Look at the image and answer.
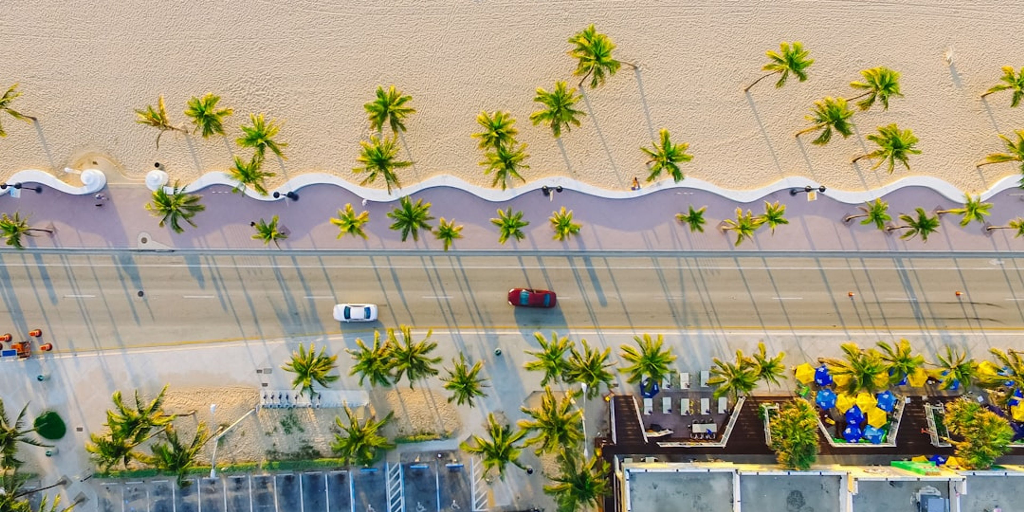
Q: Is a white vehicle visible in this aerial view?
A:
Yes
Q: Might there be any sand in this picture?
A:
Yes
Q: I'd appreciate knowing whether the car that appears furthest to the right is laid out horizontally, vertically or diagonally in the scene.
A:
horizontally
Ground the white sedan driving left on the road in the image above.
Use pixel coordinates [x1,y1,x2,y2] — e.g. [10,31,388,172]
[332,303,377,324]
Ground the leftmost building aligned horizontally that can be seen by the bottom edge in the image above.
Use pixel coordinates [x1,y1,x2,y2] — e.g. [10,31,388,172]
[615,463,737,512]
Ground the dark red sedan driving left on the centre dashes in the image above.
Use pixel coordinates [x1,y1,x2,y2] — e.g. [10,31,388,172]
[508,288,557,310]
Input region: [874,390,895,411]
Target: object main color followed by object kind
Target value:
blue umbrella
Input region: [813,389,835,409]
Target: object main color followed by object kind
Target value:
blue umbrella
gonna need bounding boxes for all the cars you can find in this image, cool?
[508,288,557,310]
[332,303,377,324]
